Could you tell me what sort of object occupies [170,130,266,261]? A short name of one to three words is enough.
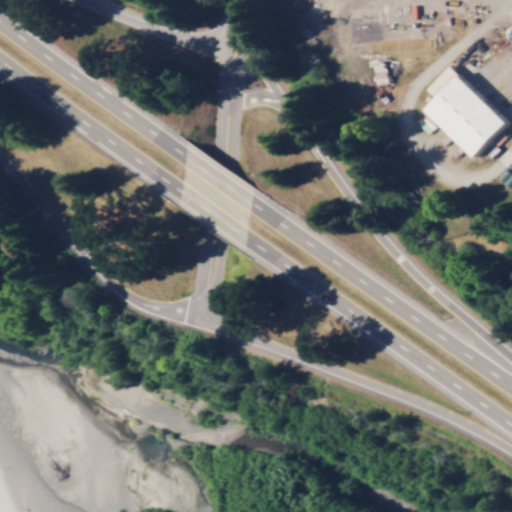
overpass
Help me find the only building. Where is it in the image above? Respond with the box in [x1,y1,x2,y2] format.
[424,67,507,158]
